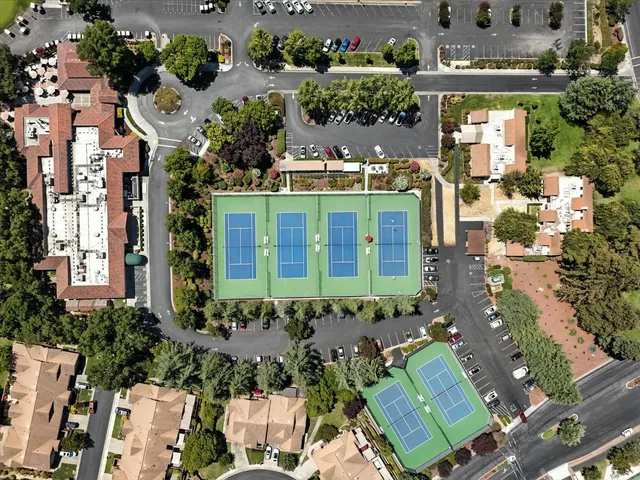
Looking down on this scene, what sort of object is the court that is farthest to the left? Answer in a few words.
tennis court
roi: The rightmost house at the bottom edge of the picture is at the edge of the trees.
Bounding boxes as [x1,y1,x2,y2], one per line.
[312,430,381,480]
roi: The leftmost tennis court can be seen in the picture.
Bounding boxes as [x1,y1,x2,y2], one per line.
[213,194,266,299]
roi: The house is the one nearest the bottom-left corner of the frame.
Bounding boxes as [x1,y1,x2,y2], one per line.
[0,340,83,475]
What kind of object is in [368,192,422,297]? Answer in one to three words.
tennis court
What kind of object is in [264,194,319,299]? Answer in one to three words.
tennis court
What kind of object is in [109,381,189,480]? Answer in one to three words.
house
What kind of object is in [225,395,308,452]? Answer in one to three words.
house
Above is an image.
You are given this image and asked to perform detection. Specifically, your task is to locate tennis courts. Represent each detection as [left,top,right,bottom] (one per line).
[316,193,370,298]
[368,192,422,297]
[364,368,451,471]
[213,194,266,299]
[264,194,319,299]
[406,342,490,450]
